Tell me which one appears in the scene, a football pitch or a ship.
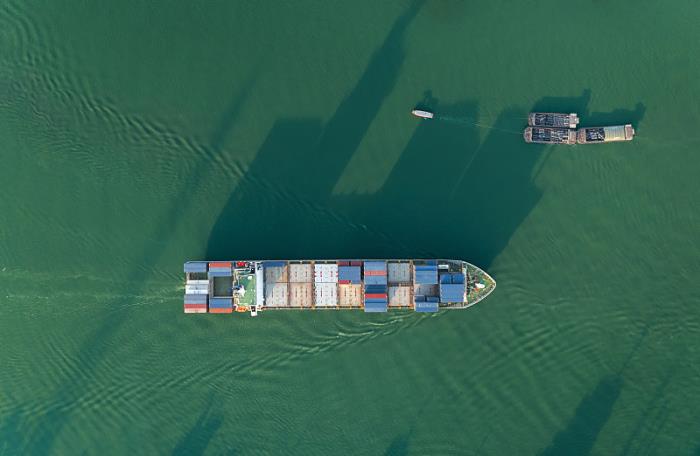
ship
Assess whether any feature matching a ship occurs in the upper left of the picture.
No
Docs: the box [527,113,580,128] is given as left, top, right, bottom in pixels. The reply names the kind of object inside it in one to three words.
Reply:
ship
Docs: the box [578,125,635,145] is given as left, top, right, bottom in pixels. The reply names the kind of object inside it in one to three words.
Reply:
ship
